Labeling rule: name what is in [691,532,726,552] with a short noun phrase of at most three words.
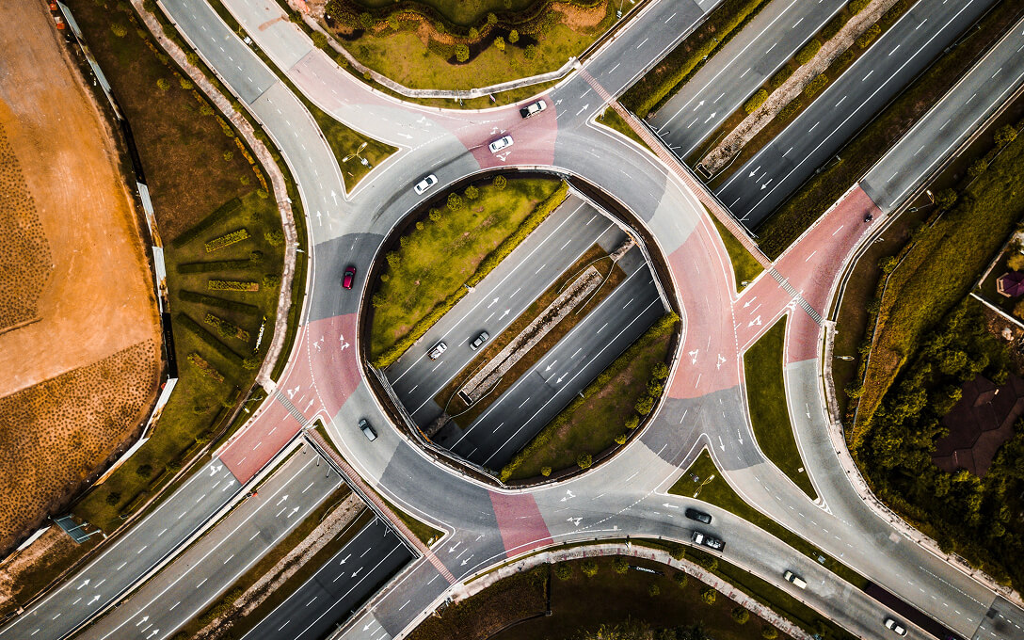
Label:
vehicle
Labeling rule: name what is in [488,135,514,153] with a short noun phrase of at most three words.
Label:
car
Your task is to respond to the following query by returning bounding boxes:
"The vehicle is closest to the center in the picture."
[468,329,491,351]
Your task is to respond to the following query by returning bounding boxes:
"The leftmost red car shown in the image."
[343,265,356,289]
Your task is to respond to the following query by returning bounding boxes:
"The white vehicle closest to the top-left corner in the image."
[412,174,439,194]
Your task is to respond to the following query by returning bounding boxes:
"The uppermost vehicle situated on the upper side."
[518,100,548,119]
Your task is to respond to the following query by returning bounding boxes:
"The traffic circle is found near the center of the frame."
[220,79,785,584]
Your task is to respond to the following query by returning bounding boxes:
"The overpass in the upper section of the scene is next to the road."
[561,97,776,317]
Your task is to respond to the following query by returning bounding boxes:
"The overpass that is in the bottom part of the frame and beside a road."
[300,361,499,559]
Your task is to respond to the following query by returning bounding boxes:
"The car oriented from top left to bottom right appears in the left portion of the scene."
[358,417,377,441]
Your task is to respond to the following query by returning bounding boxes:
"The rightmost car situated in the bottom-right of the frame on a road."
[881,616,908,636]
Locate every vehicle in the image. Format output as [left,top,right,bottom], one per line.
[684,507,712,523]
[412,174,439,194]
[518,100,548,119]
[343,265,356,289]
[881,616,908,636]
[468,329,491,351]
[358,417,377,441]
[488,135,514,153]
[691,532,726,552]
[782,570,808,589]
